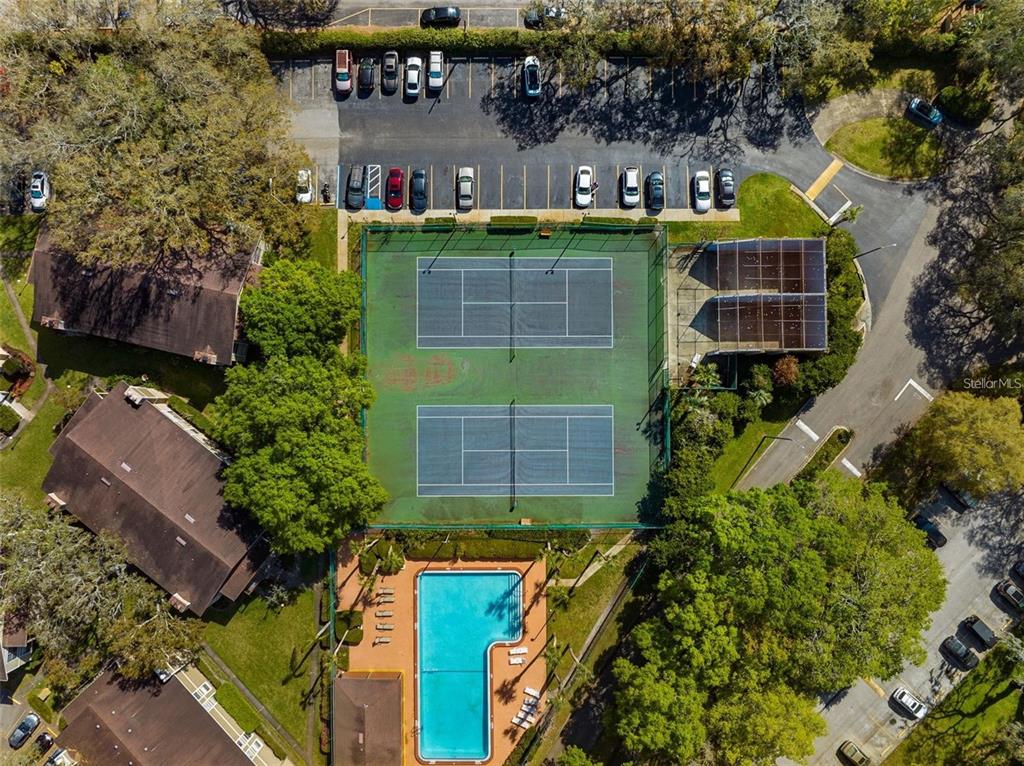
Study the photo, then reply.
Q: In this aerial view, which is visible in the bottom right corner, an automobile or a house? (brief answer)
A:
automobile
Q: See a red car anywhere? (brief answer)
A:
Yes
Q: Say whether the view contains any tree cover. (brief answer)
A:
Yes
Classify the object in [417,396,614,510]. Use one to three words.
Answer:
tennis court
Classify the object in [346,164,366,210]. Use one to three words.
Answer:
car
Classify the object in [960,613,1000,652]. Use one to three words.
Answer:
truck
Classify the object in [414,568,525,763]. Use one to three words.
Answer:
swimming pool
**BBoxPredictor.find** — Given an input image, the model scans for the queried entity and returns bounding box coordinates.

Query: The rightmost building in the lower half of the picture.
[332,671,402,766]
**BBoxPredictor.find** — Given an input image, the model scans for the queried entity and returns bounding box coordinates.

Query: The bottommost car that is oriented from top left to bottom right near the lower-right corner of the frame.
[836,736,873,766]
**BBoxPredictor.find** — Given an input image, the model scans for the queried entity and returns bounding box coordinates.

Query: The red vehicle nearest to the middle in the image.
[386,168,405,210]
